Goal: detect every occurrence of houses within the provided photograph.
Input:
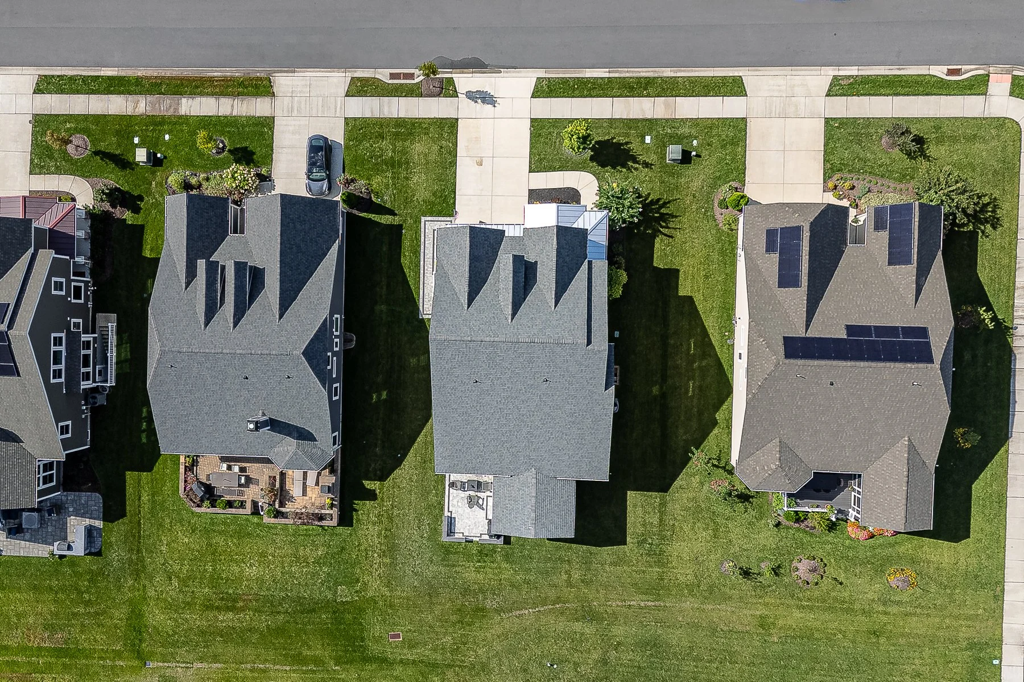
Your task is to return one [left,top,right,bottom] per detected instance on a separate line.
[0,192,101,536]
[146,193,348,472]
[727,202,955,531]
[430,204,615,538]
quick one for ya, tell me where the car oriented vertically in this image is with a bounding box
[302,134,333,197]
